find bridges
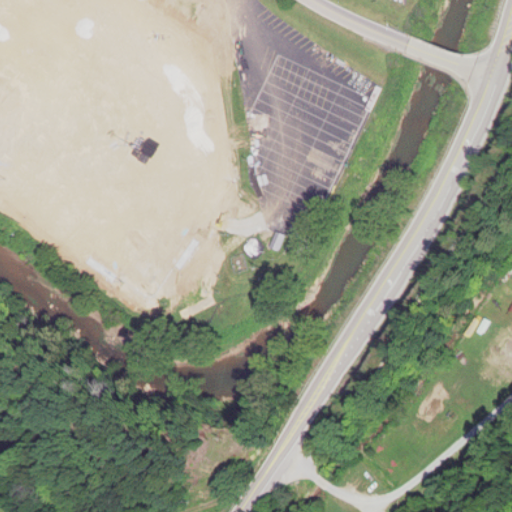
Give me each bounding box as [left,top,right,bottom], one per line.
[406,38,477,86]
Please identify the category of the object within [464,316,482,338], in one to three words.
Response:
vehicle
